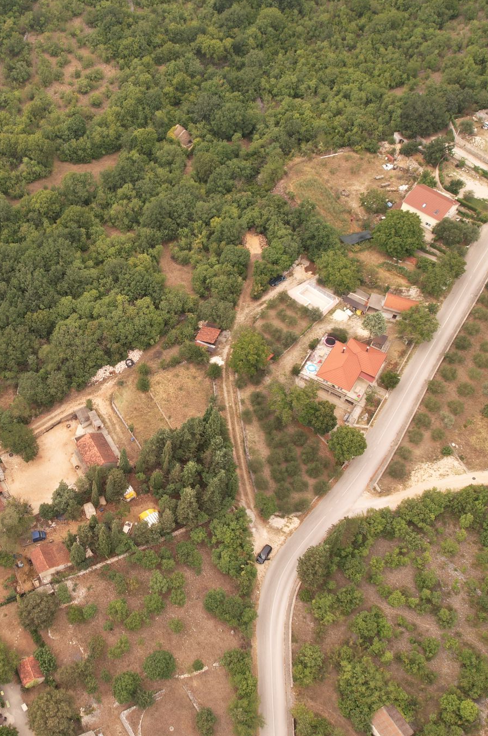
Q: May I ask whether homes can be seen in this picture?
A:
Yes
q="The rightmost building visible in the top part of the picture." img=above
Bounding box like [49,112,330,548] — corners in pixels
[401,184,458,237]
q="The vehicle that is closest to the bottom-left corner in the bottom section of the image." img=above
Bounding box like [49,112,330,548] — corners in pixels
[21,530,49,548]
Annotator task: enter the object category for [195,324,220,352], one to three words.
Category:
shed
